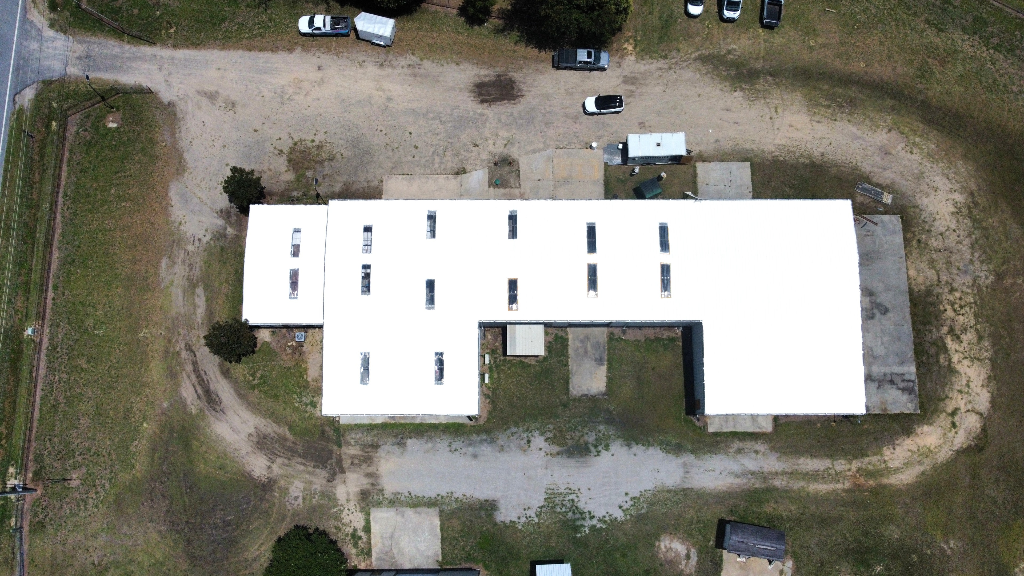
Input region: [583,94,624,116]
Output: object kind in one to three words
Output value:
car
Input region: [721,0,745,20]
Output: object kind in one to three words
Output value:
vehicle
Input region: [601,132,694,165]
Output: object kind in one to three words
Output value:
trailer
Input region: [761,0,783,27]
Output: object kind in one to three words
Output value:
truck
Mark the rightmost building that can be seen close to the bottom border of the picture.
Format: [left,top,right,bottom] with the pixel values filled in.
[723,521,786,563]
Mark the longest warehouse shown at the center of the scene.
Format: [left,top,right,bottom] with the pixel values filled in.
[242,199,867,424]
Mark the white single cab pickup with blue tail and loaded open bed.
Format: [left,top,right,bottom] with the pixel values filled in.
[298,14,353,37]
